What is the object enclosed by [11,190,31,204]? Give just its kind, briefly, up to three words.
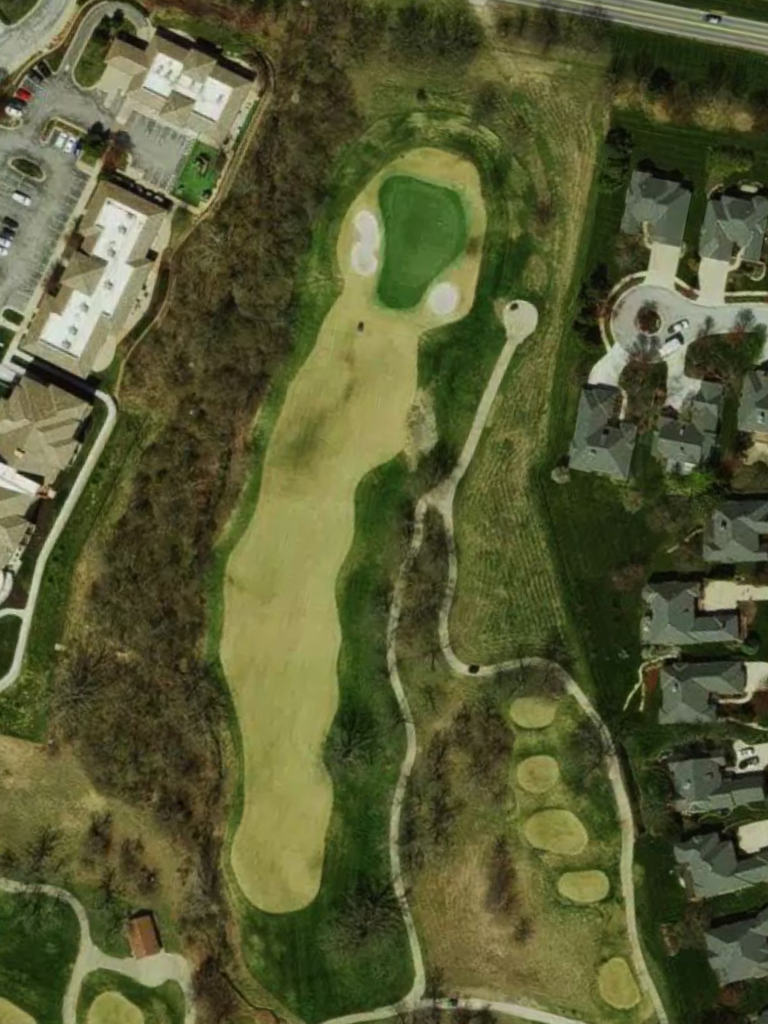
car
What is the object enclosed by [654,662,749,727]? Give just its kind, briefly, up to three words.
house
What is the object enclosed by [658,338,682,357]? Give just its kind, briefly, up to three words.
vehicle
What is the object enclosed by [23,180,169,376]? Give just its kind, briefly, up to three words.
building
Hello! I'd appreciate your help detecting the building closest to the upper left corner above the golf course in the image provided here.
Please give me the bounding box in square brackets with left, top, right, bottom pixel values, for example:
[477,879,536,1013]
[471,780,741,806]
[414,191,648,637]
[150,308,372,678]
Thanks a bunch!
[106,32,254,150]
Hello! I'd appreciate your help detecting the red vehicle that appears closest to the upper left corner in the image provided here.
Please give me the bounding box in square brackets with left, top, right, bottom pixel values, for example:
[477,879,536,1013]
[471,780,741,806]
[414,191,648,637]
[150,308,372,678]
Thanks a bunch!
[14,87,33,102]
